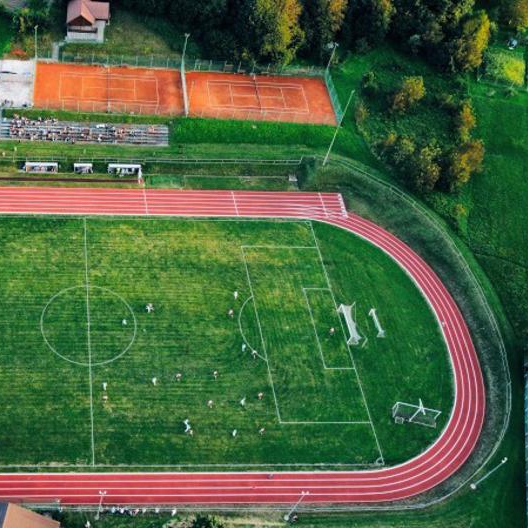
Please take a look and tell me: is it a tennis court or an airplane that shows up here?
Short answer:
tennis court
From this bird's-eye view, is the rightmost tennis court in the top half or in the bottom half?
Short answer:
top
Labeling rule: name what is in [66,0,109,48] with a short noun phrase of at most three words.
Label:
building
